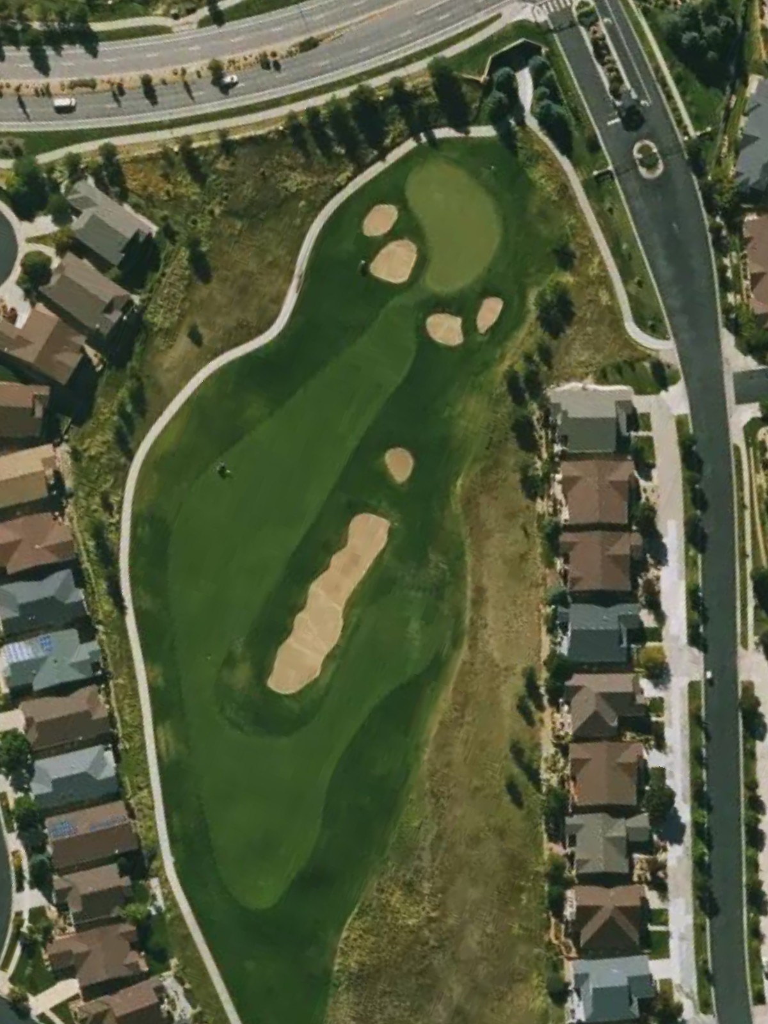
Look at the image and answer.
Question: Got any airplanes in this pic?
No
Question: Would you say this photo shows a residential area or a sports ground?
residential area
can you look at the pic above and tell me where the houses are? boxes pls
[0,570,86,638]
[28,747,121,811]
[45,256,141,335]
[558,603,642,663]
[0,382,49,436]
[0,443,56,508]
[0,630,103,692]
[551,388,633,451]
[0,303,102,379]
[572,886,646,951]
[45,919,146,984]
[562,458,635,523]
[50,863,132,927]
[566,813,651,875]
[574,958,654,1024]
[75,977,168,1024]
[570,742,645,806]
[567,674,648,737]
[0,510,76,575]
[23,689,110,752]
[561,531,643,591]
[44,801,137,870]
[67,177,159,260]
